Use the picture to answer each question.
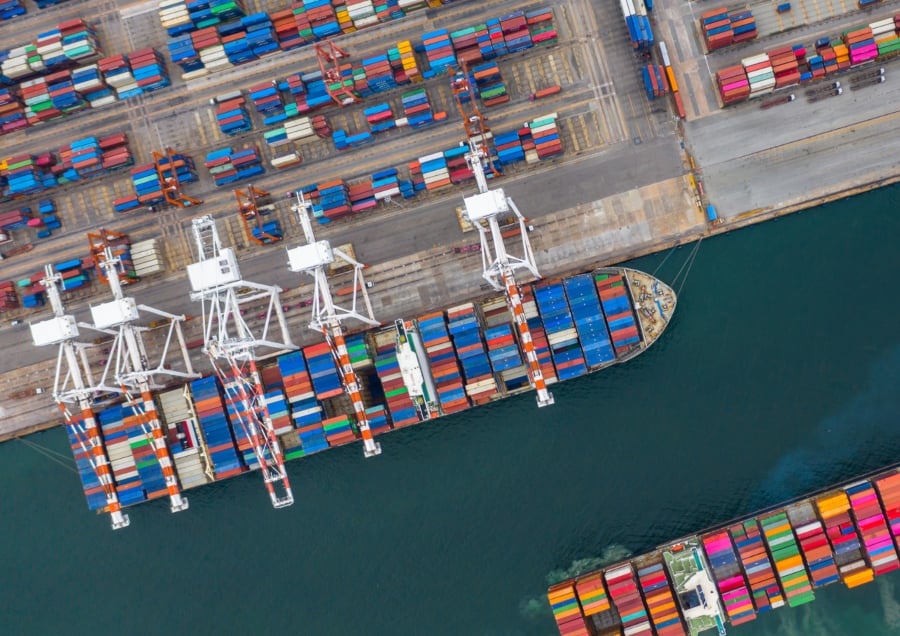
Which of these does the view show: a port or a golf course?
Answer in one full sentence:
The picture captures a port.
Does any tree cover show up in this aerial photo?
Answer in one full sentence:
No, no tree cover is visible.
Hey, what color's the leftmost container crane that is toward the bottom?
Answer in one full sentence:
The leftmost container crane that is toward the bottom is white.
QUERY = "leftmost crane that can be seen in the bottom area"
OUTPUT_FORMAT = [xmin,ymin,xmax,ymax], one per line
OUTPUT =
[25,264,143,529]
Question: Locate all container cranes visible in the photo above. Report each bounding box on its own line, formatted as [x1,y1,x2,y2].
[455,141,554,406]
[179,208,301,507]
[85,246,209,512]
[232,184,283,248]
[464,117,505,184]
[280,191,389,456]
[149,143,204,208]
[84,227,142,289]
[25,264,143,529]
[445,59,489,129]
